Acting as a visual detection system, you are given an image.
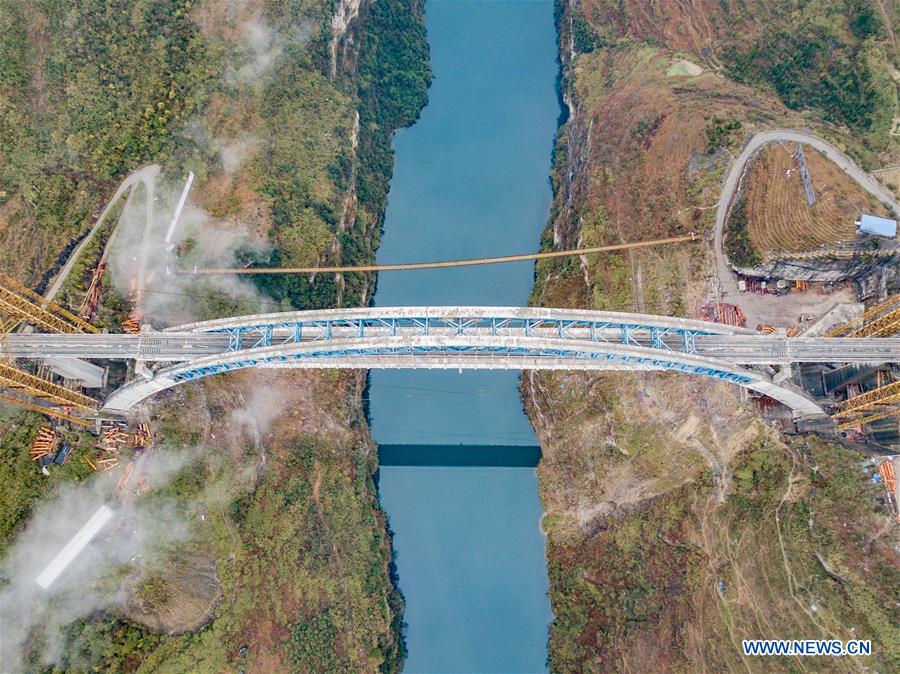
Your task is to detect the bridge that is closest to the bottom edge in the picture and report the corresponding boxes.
[0,307,900,418]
